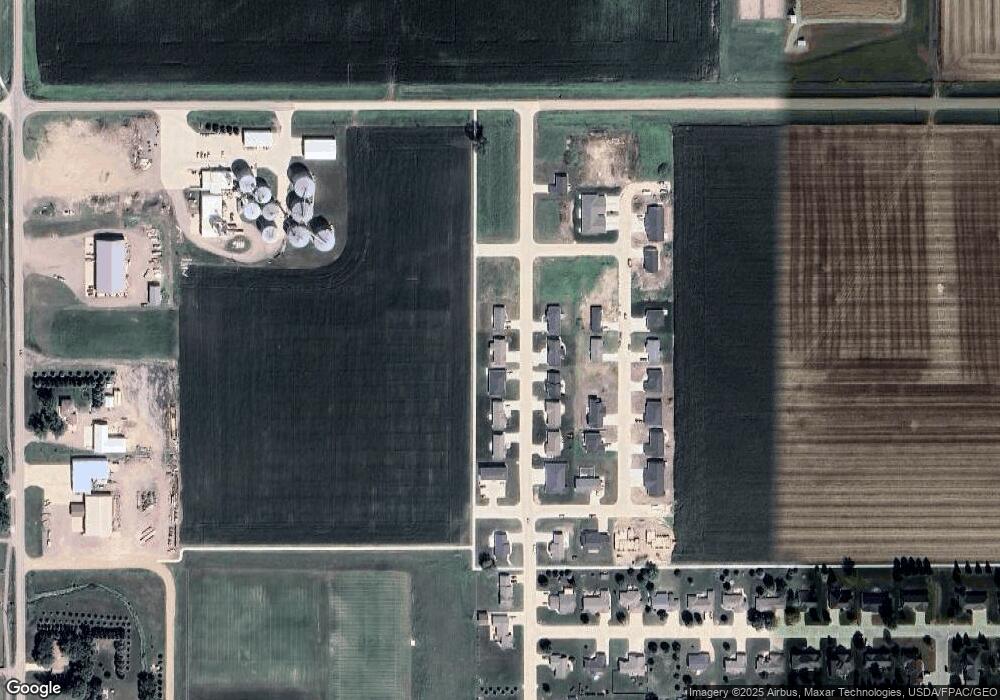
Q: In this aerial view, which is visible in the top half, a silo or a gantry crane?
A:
silo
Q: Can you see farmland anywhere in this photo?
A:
Yes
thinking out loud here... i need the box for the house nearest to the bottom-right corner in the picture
[965,663,979,685]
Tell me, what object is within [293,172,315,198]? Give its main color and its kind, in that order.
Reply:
white silo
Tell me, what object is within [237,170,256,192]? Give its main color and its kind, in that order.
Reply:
white silo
